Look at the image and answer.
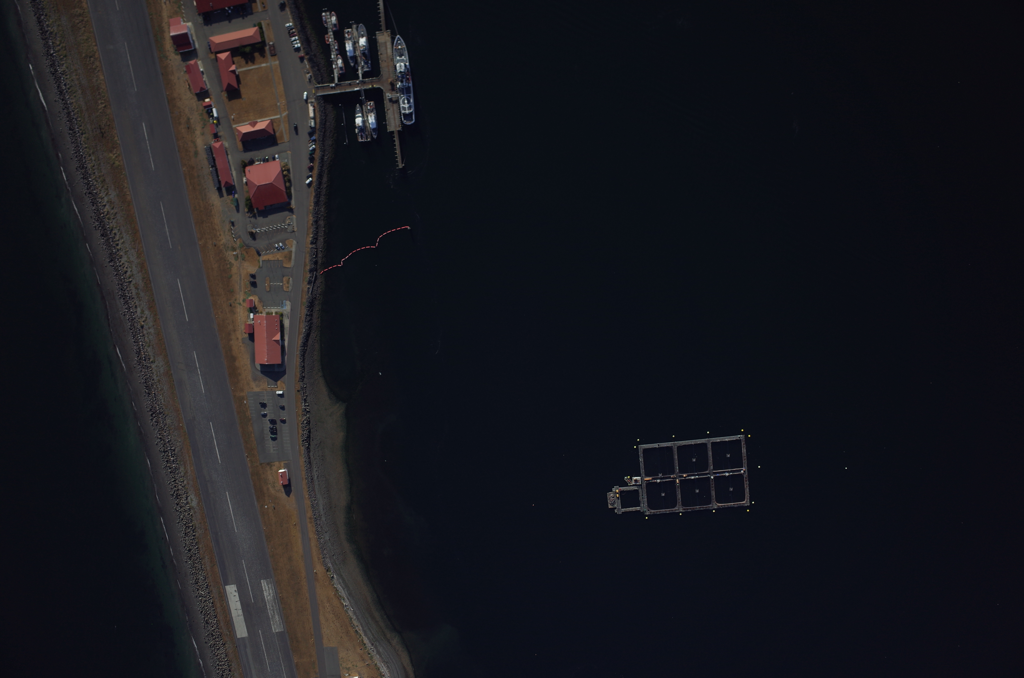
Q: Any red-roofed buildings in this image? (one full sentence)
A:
Yes, the picture does show a red-roofed building.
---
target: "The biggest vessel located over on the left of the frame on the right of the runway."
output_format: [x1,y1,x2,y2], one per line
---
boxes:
[393,35,415,124]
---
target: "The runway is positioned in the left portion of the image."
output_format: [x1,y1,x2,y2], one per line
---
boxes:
[87,0,297,678]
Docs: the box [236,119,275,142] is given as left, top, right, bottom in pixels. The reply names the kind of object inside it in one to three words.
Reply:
house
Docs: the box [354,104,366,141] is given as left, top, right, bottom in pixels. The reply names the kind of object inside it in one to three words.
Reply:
boat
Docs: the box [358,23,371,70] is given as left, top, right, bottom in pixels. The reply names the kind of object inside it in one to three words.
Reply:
boat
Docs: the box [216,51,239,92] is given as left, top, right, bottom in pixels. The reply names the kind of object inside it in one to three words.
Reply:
building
